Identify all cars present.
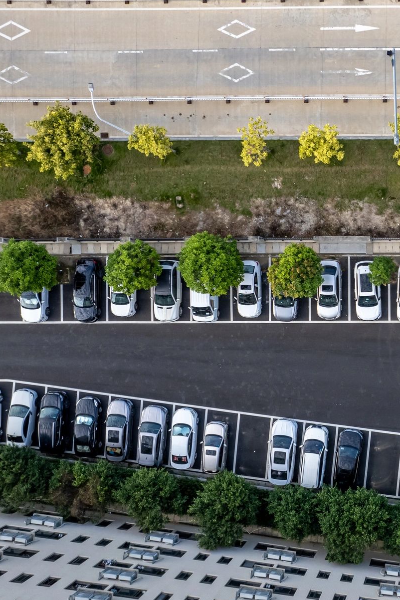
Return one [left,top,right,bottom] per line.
[300,423,330,490]
[268,416,299,486]
[6,387,42,449]
[333,427,364,488]
[70,396,104,457]
[201,419,230,474]
[314,258,344,320]
[234,259,265,318]
[149,259,183,322]
[69,260,103,323]
[102,398,136,462]
[270,287,299,322]
[352,260,382,321]
[106,283,139,318]
[168,407,201,470]
[17,285,51,323]
[136,404,171,468]
[36,390,73,454]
